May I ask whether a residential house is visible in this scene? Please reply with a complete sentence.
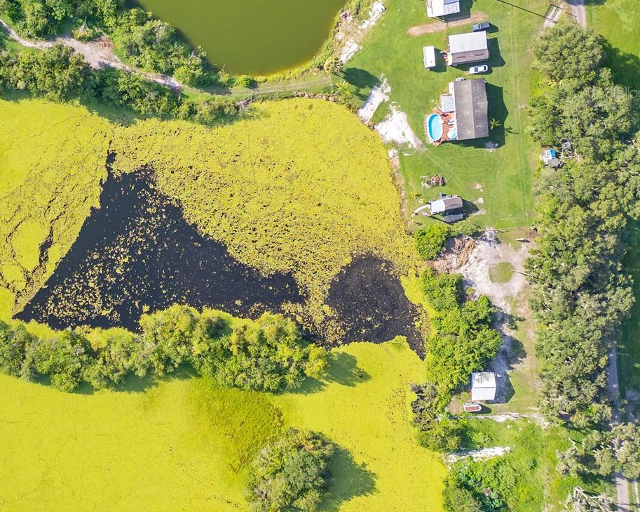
Yes, looking at the shot, I can spot a residential house.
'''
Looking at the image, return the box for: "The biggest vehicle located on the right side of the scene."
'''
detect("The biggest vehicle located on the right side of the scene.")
[421,45,435,71]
